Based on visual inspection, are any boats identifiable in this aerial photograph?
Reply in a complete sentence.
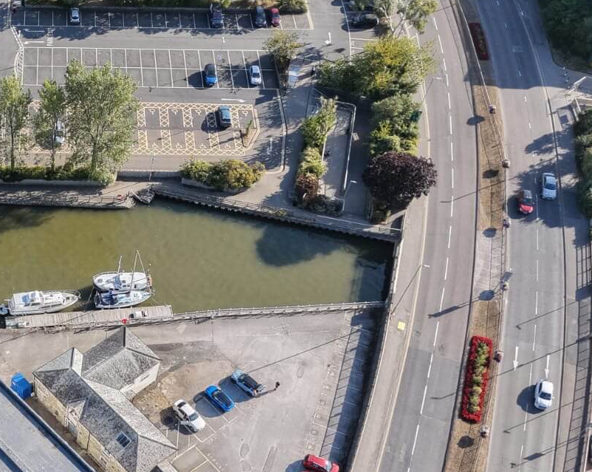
Yes, looking at the shot, I can spot a boat.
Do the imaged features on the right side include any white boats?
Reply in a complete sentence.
No, the scene shows no white boat on the right side.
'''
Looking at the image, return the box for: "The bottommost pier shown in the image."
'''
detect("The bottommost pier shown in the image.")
[5,299,174,329]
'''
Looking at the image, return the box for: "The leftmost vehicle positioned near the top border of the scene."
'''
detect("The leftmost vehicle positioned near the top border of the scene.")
[67,7,81,25]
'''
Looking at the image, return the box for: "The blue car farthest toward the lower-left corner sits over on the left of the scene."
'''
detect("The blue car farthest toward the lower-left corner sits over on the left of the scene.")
[202,382,238,417]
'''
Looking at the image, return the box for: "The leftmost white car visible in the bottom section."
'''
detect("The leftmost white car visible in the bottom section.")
[168,397,208,434]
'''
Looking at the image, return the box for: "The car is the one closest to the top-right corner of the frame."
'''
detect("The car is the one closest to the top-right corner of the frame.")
[538,172,559,200]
